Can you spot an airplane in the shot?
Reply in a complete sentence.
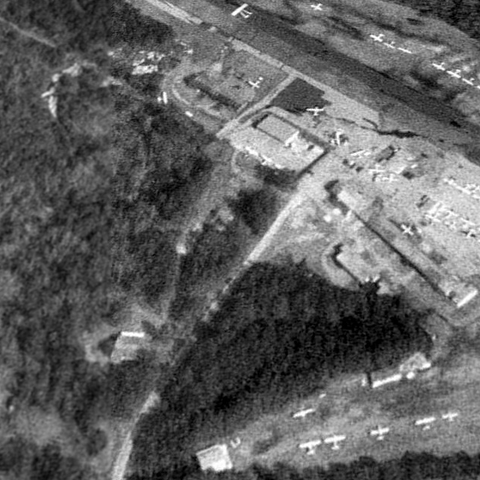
Yes, an airplane is visible in the scene.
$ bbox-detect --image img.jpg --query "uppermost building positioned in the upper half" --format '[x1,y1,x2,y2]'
[255,115,300,147]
